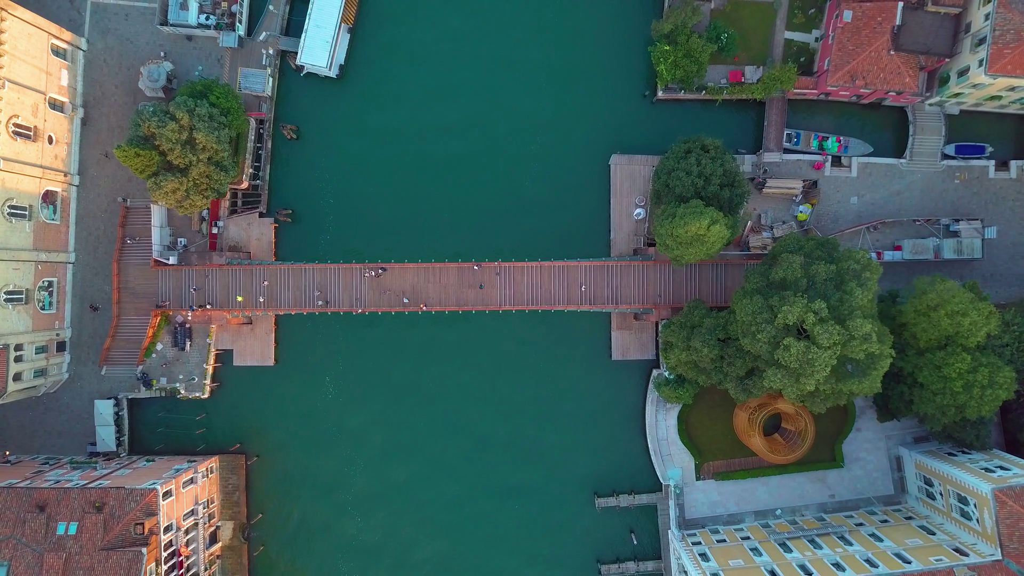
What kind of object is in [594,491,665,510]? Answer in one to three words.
pier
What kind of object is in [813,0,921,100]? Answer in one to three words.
house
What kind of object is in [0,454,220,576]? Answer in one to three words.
building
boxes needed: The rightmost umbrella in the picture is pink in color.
[728,70,742,82]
